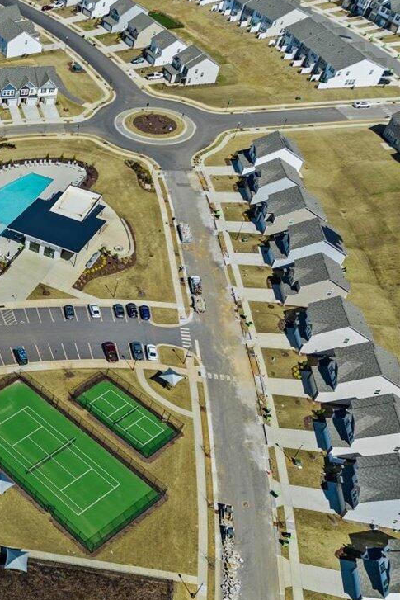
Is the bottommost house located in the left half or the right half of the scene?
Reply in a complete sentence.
You can find the bottommost house on the right side of the picture.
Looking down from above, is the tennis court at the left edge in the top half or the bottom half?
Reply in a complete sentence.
The bottom half of the photo is where the tennis court at the left edge is.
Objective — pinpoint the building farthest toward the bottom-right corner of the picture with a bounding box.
[344,530,400,600]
